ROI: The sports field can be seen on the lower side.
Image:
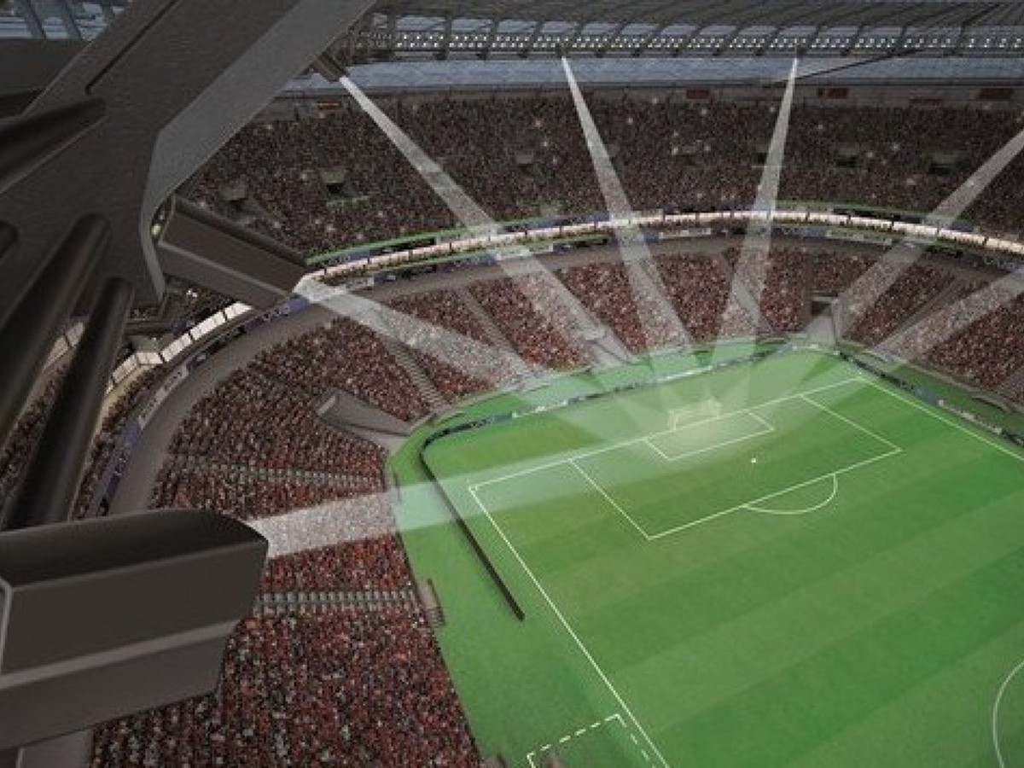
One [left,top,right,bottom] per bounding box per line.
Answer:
[470,376,1024,768]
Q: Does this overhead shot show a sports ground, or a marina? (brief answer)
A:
sports ground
